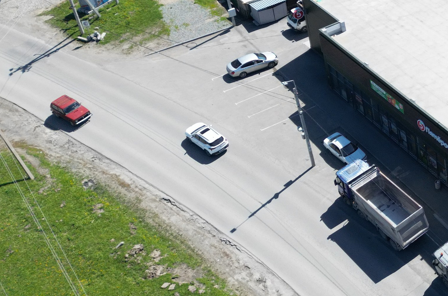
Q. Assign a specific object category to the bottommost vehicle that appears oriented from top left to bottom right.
truck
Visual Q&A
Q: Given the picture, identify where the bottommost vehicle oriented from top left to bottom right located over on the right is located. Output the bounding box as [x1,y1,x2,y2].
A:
[323,165,427,257]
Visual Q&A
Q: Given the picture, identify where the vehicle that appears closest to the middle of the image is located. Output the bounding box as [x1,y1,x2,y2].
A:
[186,125,230,158]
